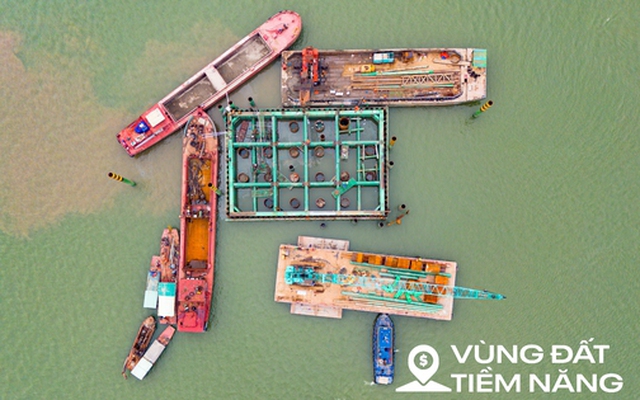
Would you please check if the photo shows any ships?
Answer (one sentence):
Yes, there's a ship down there.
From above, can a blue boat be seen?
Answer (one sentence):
Yes, a blue boat appears in the view.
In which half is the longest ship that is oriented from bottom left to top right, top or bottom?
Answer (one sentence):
The top half of the photo is where the longest ship that is oriented from bottom left to top right is.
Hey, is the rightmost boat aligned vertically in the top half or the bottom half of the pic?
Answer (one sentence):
The rightmost boat aligned vertically is in the bottom half of the image.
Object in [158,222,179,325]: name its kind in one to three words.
boat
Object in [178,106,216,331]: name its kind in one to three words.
ship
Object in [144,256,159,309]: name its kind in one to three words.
boat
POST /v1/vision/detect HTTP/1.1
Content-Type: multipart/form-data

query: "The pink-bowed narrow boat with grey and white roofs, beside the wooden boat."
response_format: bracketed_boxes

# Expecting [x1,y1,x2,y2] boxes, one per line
[131,324,176,381]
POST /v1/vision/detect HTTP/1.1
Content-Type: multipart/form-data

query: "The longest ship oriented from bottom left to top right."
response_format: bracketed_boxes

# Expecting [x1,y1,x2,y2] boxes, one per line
[116,14,303,155]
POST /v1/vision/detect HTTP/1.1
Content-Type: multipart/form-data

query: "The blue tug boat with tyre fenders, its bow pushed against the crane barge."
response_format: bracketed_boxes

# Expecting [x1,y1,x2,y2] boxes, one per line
[371,313,396,386]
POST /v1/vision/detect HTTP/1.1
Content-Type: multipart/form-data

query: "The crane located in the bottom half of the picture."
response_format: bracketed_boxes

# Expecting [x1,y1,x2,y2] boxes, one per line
[284,261,505,300]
